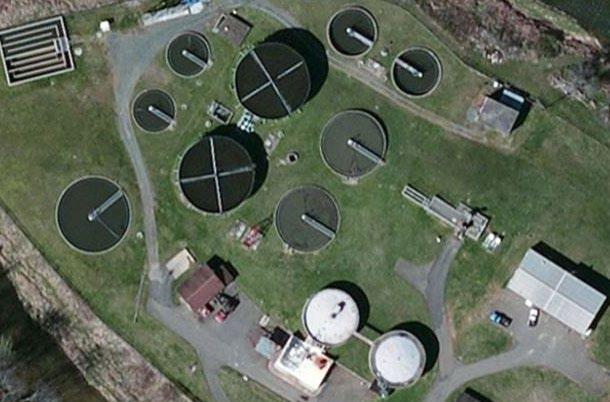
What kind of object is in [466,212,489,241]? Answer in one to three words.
house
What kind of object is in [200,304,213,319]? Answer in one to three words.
vehicle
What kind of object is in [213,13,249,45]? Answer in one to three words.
shed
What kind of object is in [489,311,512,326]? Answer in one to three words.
vehicle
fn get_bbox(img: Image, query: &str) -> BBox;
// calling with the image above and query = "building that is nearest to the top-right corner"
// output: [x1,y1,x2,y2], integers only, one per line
[476,97,519,133]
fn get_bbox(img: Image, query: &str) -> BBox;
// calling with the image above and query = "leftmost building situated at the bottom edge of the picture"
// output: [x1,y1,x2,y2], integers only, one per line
[273,336,333,390]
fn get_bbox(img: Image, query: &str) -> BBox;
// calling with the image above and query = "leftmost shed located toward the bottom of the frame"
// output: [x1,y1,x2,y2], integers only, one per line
[178,265,224,313]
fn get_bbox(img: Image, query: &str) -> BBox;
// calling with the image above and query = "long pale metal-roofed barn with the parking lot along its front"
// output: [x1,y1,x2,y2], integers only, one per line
[506,248,606,335]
